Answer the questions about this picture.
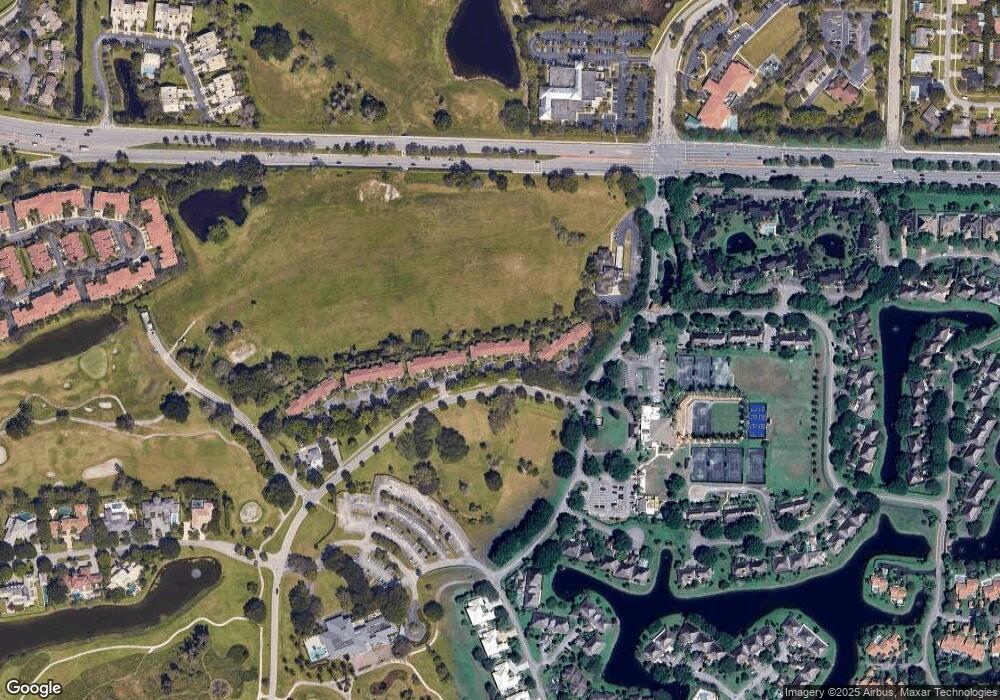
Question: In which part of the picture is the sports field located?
right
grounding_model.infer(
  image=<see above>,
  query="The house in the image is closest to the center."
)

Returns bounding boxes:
[470,340,531,359]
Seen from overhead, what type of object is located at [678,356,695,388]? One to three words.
tennis court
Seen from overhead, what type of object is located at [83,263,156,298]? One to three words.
house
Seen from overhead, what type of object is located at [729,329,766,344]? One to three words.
building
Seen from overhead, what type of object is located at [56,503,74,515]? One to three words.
swimming pool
